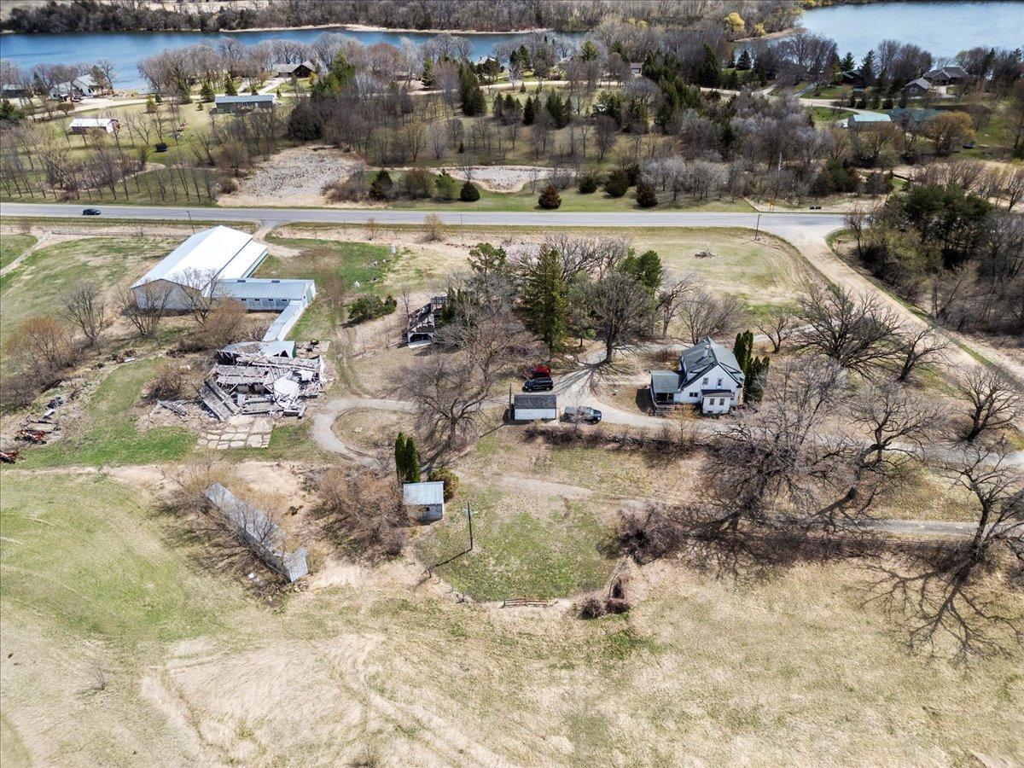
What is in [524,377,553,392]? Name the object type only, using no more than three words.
car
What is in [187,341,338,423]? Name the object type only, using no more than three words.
barn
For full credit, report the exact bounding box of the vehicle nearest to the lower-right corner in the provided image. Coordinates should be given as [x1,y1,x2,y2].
[564,407,601,424]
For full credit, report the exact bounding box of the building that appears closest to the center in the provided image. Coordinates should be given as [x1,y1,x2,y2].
[512,392,557,420]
